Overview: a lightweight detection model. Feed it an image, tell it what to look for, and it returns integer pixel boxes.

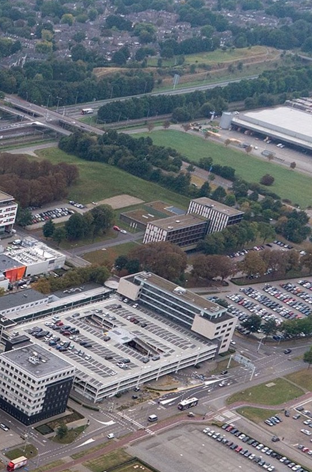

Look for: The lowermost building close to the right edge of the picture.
[234,100,312,159]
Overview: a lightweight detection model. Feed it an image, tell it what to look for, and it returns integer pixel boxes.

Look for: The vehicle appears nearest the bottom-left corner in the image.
[5,454,29,472]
